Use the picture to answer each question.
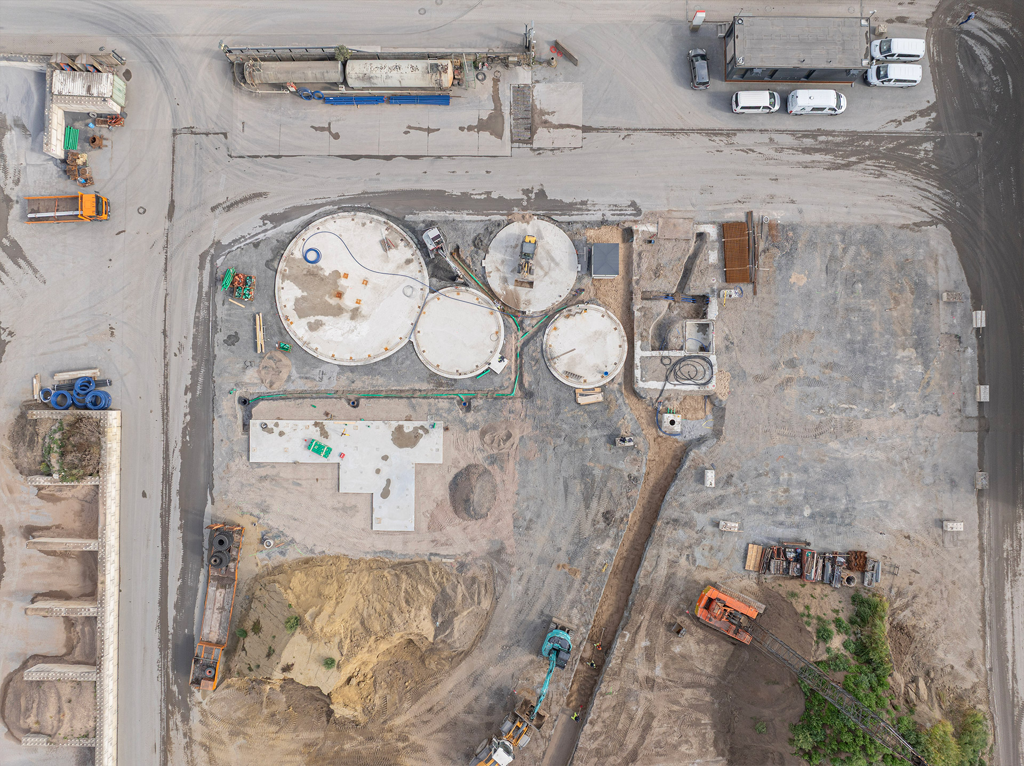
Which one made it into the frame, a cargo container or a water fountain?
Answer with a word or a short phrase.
cargo container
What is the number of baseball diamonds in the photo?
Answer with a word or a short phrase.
0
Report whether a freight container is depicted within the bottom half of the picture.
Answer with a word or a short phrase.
No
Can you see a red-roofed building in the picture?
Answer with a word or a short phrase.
No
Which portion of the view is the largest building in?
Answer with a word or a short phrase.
top right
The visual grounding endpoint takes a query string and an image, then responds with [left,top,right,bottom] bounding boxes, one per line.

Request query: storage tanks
[239,53,345,90]
[344,54,453,97]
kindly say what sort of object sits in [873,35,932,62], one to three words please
vehicle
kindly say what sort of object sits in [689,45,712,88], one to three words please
car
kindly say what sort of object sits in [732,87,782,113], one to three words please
vehicle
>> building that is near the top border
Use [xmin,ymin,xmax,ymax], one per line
[724,8,881,85]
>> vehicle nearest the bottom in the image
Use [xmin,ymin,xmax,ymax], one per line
[473,693,544,766]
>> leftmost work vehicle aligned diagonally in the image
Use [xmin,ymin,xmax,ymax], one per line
[414,224,463,276]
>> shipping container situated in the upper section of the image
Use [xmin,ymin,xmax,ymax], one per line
[51,70,128,110]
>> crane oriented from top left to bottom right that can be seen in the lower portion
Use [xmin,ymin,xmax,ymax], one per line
[694,582,947,766]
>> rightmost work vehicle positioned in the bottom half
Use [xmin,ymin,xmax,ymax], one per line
[527,619,574,721]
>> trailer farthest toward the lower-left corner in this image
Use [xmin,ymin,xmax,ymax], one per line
[185,524,239,696]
